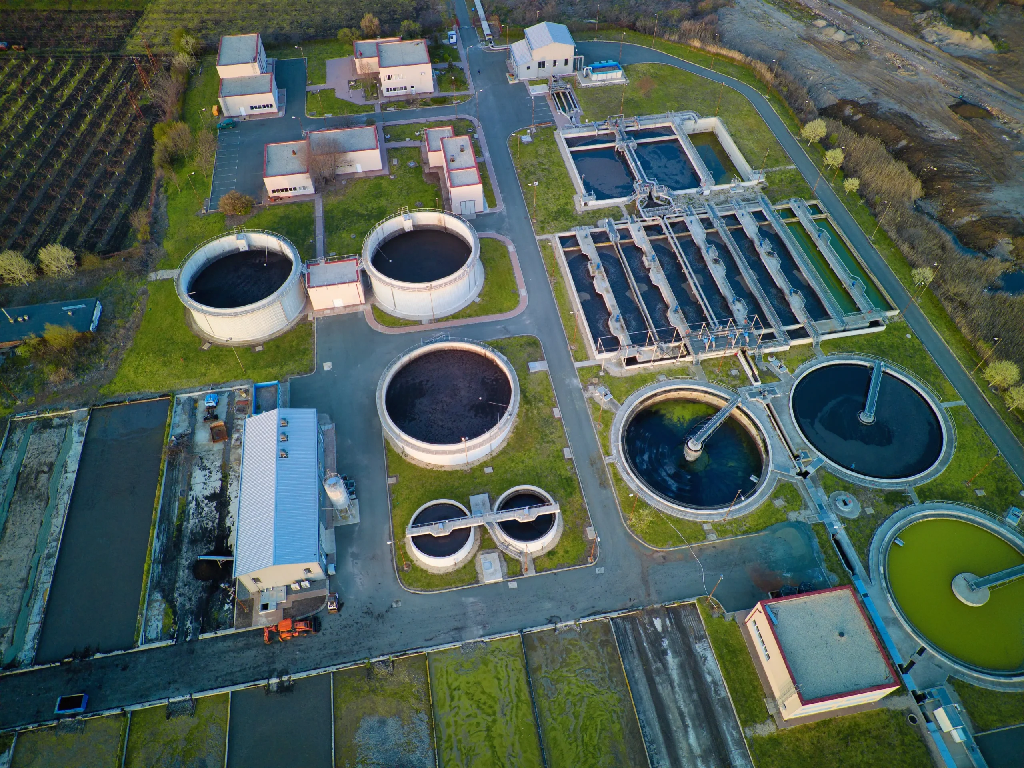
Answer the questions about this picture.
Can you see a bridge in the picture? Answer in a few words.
Yes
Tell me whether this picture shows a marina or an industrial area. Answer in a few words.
industrial area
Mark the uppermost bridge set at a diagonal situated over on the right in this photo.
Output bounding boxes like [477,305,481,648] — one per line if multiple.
[687,393,740,448]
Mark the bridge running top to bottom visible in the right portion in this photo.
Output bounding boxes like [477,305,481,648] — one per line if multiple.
[865,355,888,418]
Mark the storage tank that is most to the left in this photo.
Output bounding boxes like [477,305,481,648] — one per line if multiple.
[172,222,311,344]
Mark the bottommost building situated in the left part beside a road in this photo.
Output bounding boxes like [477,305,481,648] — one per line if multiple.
[193,405,326,591]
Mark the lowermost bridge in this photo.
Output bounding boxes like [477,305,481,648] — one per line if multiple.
[971,559,1024,591]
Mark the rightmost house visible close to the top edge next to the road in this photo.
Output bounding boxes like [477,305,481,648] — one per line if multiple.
[509,20,584,79]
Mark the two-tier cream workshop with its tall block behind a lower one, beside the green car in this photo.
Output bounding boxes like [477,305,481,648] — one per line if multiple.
[216,32,278,116]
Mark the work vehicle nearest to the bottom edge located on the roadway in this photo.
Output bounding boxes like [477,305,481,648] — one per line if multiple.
[266,619,319,655]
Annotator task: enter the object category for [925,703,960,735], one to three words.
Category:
shed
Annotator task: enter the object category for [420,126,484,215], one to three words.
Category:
building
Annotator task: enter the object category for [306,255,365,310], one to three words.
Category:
building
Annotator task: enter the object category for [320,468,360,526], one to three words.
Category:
silo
